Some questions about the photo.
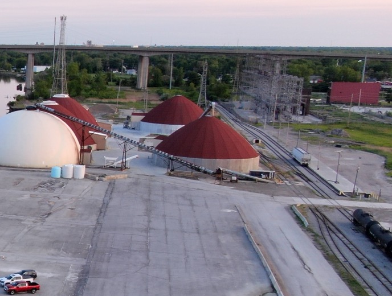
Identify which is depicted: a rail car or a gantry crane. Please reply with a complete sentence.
Of the two, only a rail car appears.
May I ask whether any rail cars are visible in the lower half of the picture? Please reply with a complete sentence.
Yes, I can see a rail car in the lower half of the picture.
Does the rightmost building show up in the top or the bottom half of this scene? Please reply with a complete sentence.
The rightmost building sits in the top half of the picture.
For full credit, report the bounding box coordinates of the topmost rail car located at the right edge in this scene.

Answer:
[355,209,386,239]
